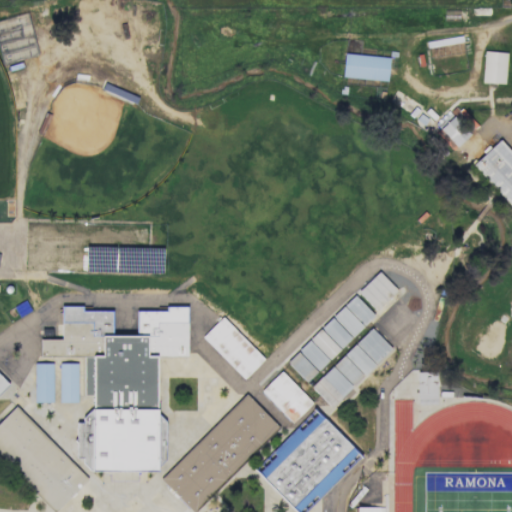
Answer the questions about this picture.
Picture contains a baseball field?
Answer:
Yes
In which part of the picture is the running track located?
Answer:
bottom right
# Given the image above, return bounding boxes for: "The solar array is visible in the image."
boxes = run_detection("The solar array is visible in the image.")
[88,248,165,273]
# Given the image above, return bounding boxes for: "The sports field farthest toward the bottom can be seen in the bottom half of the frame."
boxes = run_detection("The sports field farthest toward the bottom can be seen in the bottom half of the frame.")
[414,467,512,512]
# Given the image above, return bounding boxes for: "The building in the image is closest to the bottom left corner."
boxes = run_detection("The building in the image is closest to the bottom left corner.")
[0,405,90,512]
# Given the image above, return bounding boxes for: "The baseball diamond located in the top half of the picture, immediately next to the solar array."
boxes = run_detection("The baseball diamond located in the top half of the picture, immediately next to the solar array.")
[24,81,194,218]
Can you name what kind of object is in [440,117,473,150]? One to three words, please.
house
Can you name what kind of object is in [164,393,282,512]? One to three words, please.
building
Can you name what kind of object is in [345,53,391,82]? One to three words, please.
barn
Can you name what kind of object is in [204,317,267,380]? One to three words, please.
building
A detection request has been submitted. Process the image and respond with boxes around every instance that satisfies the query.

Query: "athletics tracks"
[396,400,512,512]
